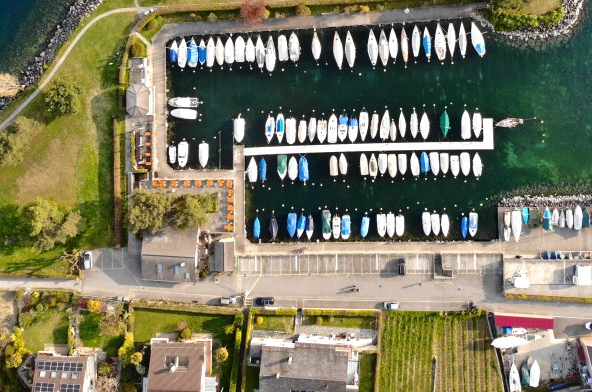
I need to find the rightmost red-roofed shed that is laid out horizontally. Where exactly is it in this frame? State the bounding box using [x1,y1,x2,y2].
[494,312,554,329]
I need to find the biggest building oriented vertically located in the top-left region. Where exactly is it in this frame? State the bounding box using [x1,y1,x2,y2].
[127,58,155,116]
